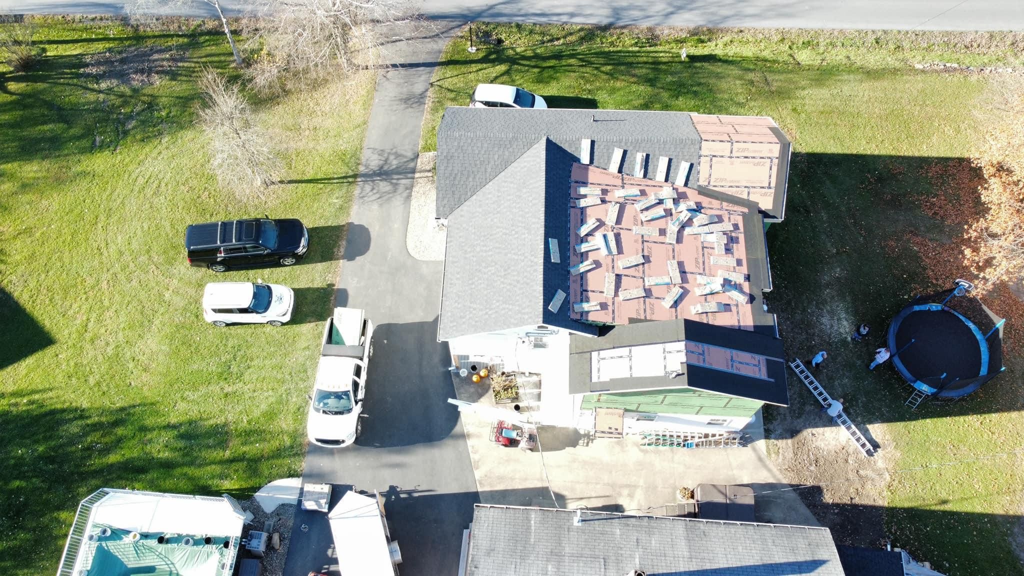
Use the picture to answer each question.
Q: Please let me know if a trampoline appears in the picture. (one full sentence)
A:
Yes, looking at the shot, I can spot a trampoline.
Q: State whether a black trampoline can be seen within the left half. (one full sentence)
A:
No, there's no black trampoline to be seen within the left half.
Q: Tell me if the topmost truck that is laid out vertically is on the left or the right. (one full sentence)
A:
It is on the left.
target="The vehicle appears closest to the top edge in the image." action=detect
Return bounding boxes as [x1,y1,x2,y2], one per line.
[467,77,549,109]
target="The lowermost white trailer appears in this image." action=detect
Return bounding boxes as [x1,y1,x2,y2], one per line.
[327,469,413,576]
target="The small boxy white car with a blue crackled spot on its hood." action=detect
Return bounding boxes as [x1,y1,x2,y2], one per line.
[197,276,296,328]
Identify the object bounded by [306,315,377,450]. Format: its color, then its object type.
white truck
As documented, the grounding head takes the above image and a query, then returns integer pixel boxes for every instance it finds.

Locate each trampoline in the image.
[876,273,1013,411]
